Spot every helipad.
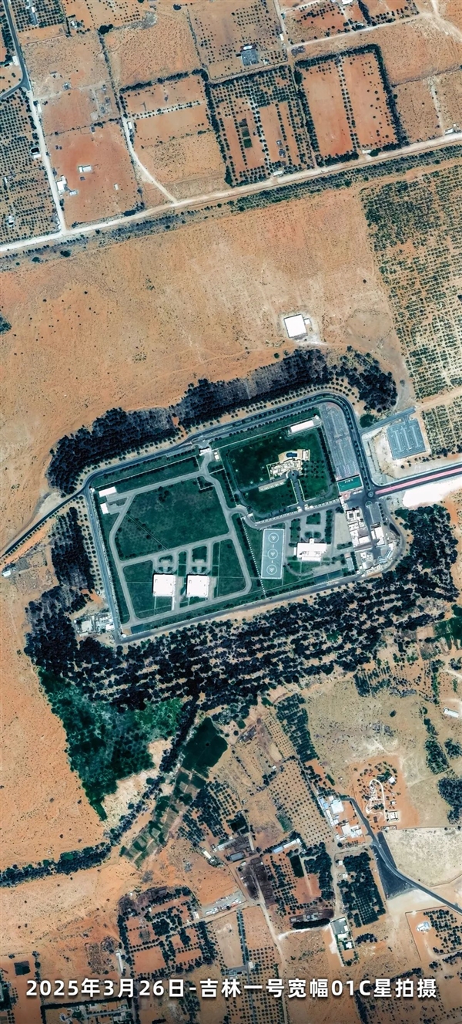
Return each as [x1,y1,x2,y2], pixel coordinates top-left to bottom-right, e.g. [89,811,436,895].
[262,529,284,578]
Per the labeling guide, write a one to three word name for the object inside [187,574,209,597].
building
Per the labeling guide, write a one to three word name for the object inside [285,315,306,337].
building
